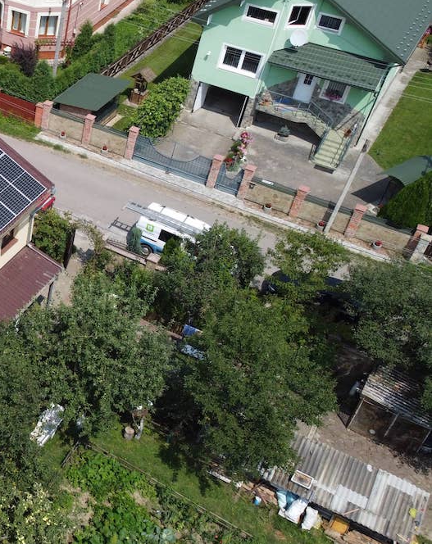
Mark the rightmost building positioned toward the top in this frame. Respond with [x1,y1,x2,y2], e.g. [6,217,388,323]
[182,0,432,173]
